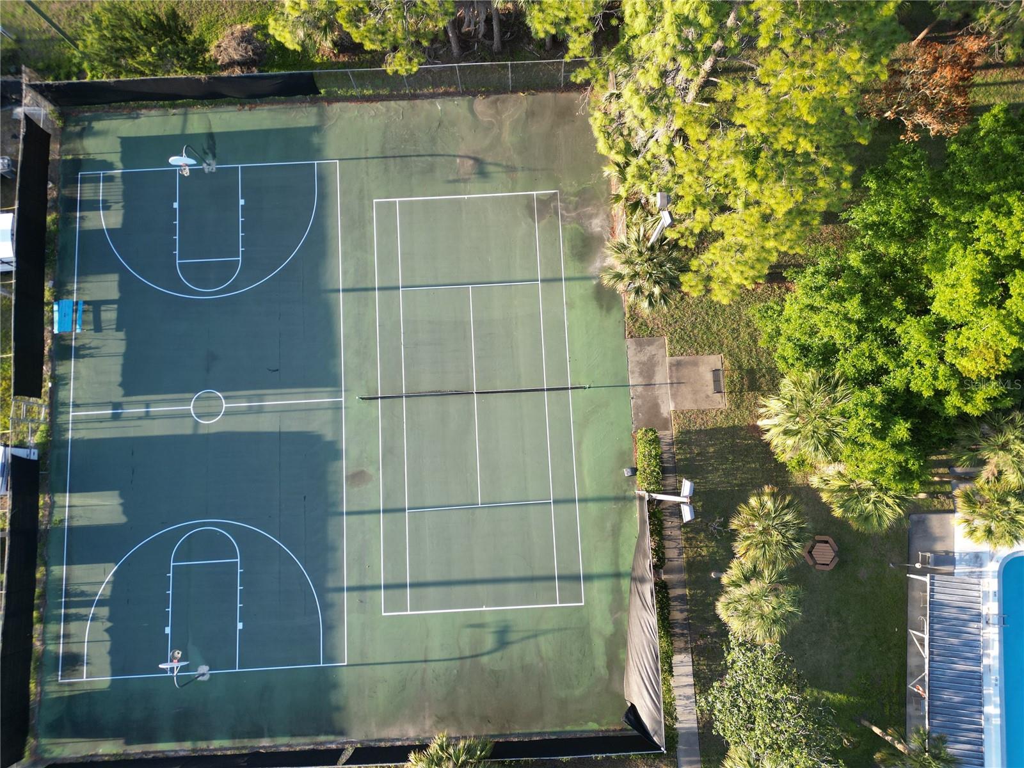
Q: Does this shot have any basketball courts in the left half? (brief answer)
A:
Yes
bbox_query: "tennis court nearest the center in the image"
[374,191,584,614]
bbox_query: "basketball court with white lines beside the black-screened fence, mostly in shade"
[58,160,346,681]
